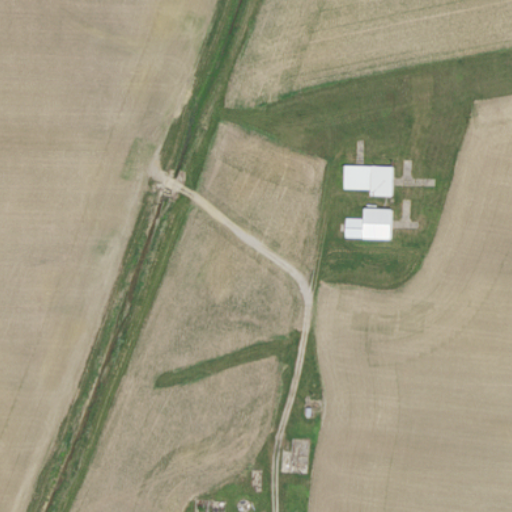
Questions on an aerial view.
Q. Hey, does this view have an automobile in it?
No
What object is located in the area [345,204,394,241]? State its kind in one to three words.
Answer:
barn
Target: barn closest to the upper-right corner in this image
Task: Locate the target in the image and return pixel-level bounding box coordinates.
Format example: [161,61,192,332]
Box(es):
[345,164,394,196]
